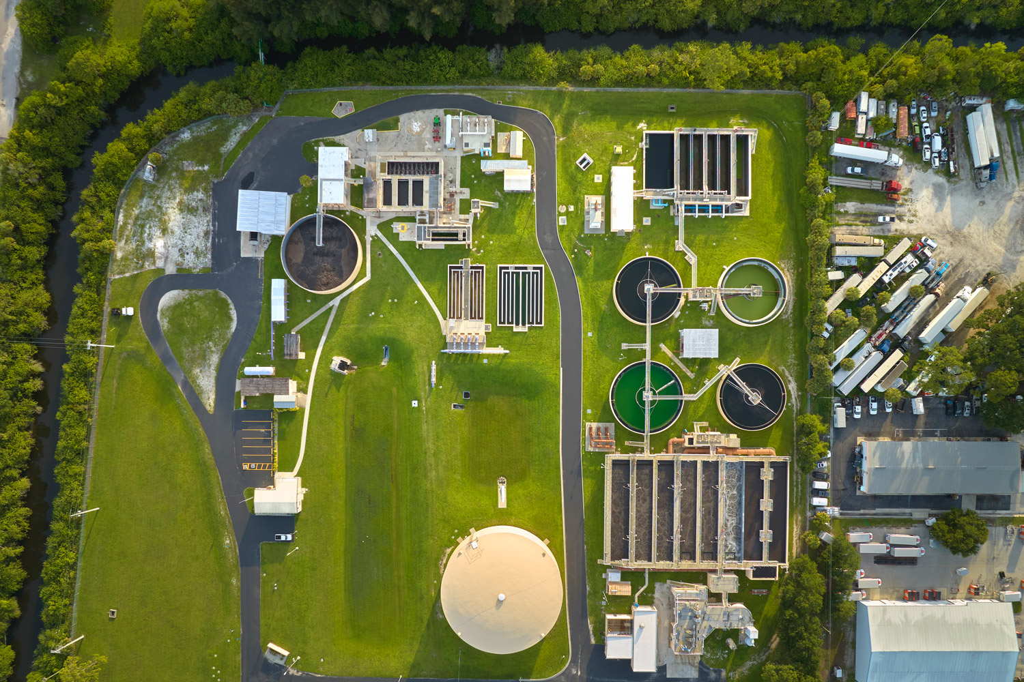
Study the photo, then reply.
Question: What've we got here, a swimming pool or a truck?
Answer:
truck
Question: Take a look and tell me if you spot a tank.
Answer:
Yes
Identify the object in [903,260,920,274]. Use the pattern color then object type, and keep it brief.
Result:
white vehicle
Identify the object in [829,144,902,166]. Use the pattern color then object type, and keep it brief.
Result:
white truck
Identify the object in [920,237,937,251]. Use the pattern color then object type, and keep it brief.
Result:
white car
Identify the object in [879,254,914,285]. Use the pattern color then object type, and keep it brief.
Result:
white camper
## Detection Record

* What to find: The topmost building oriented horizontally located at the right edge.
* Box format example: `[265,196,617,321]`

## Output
[860,440,1022,494]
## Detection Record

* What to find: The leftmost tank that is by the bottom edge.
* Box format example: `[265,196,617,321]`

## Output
[440,523,563,654]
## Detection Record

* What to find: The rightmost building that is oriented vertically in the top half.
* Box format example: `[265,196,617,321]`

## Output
[609,165,637,233]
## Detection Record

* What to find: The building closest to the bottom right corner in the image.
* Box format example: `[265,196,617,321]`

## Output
[850,597,1020,682]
